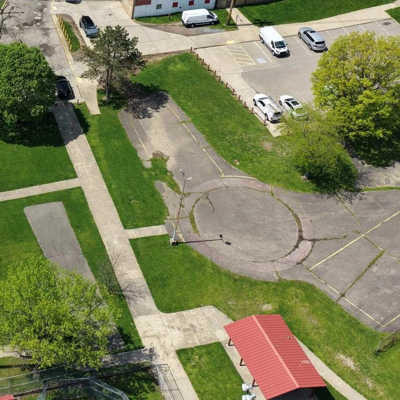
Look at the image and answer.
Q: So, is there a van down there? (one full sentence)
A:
Yes, a van appears in the view.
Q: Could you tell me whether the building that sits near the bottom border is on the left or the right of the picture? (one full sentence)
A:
It is on the right.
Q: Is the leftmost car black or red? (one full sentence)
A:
The color of the leftmost car is black.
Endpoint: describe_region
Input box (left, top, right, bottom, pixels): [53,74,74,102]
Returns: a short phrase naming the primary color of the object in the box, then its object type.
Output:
black car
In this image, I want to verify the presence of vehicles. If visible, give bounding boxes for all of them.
[78,14,99,37]
[53,74,74,102]
[246,92,289,126]
[176,6,223,30]
[275,94,311,122]
[294,26,330,53]
[256,21,292,59]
